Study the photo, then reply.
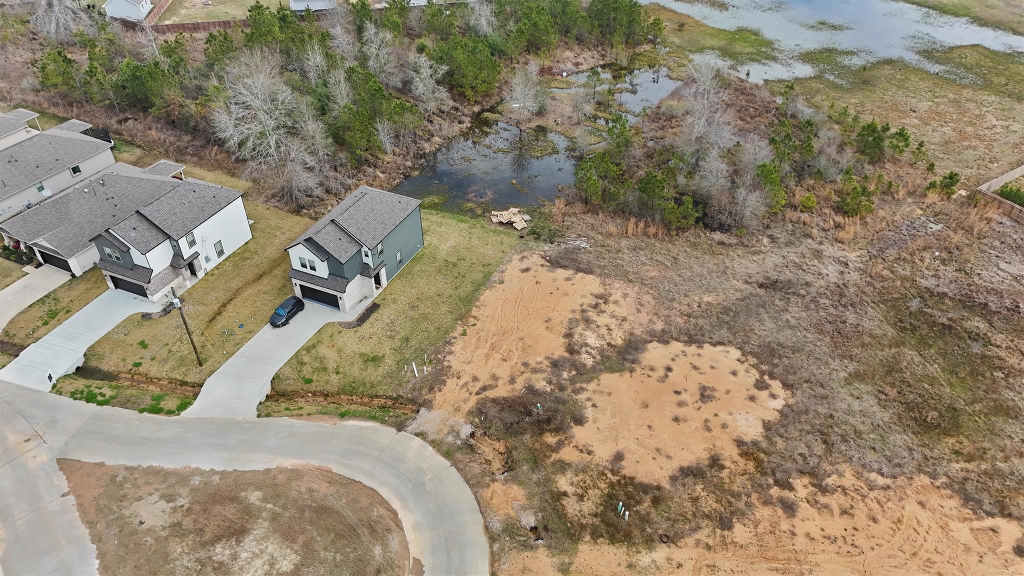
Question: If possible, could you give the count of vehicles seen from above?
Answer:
1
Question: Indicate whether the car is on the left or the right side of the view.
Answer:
left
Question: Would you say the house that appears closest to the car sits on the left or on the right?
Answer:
left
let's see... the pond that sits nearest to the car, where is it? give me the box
[386,66,686,214]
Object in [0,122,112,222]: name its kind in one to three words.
house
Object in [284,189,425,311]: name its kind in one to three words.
house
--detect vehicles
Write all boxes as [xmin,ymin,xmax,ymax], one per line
[266,294,306,326]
